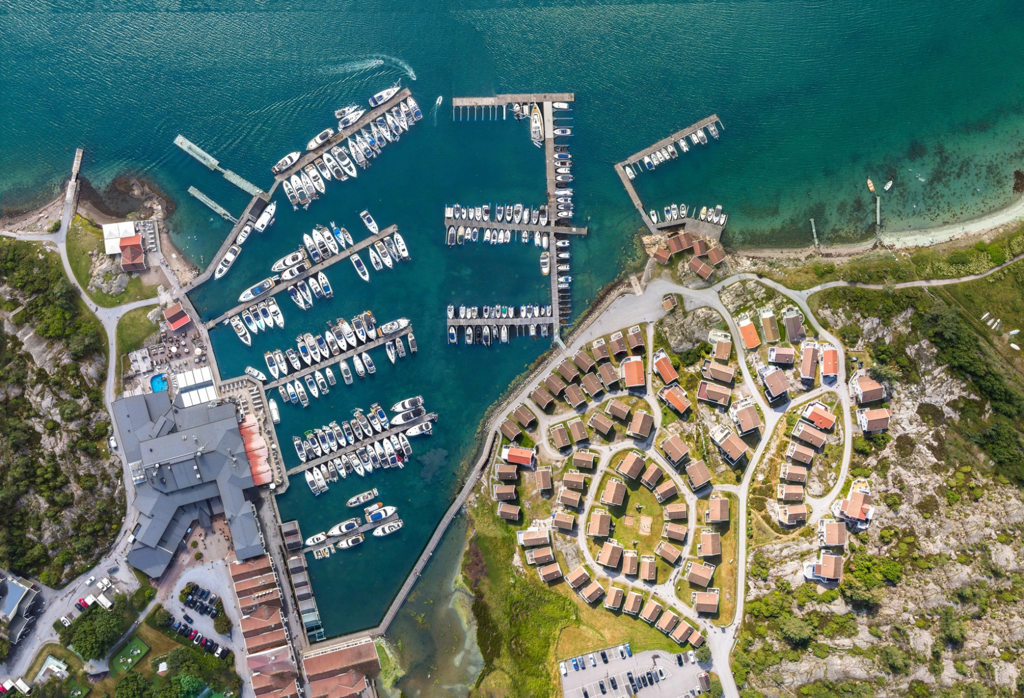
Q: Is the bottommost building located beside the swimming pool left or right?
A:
left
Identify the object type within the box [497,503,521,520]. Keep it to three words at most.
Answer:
building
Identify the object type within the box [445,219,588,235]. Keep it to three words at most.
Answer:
pier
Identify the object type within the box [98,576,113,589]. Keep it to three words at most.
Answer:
vehicle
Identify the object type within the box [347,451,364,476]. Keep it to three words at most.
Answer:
boat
